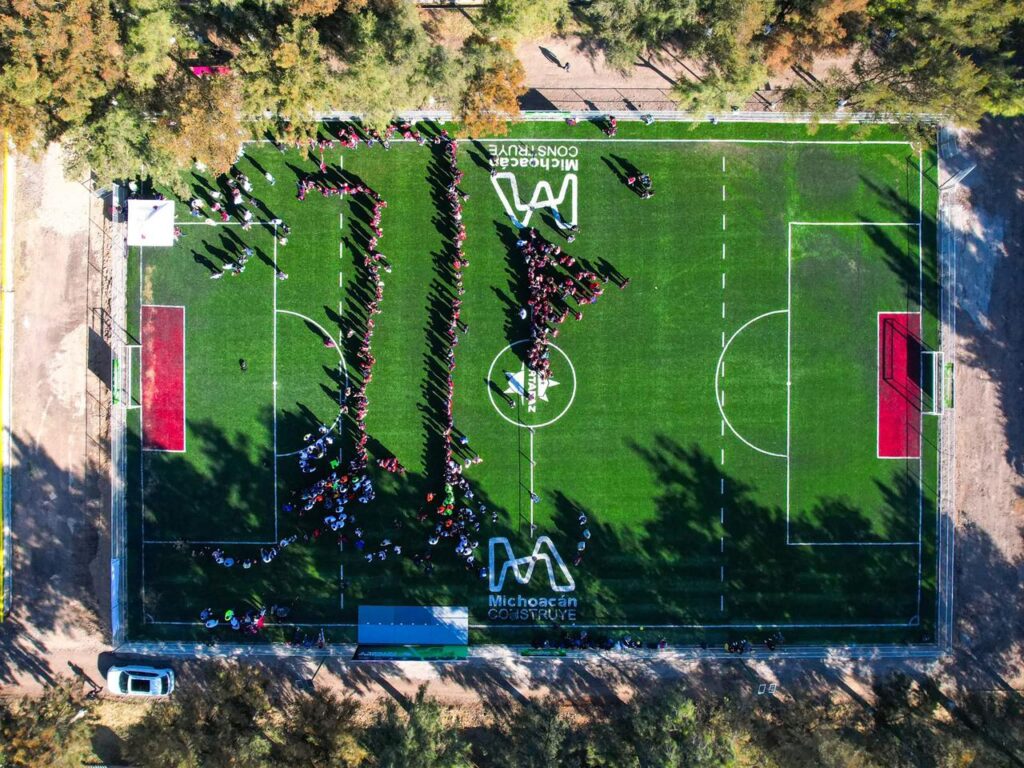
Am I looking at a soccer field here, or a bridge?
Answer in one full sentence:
Visible in the photo is a soccer field.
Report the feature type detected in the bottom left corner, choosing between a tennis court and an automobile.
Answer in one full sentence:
Looking in the bottom left corner, you will find an automobile.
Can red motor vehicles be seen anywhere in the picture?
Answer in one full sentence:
No, the scene contains no red motor vehicle.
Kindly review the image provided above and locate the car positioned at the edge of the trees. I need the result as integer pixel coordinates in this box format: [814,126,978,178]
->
[107,663,178,699]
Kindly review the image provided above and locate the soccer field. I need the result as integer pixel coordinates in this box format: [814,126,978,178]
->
[127,121,938,644]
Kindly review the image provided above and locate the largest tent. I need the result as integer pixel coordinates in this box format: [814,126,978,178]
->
[127,199,187,251]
